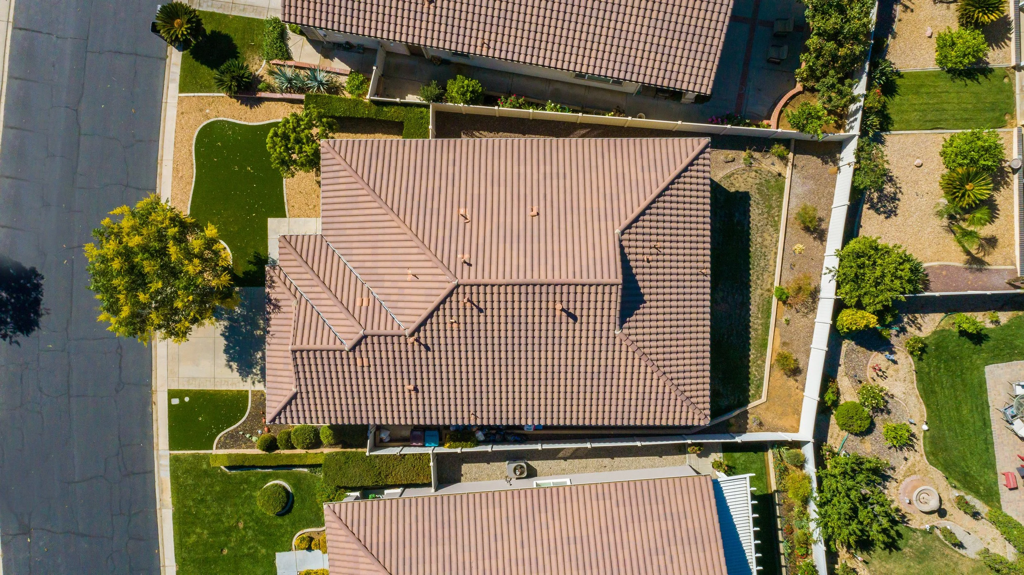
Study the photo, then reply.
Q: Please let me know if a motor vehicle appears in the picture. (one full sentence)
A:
No, no motor vehicle is visible in the view.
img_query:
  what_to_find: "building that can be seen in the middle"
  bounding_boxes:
[262,135,714,428]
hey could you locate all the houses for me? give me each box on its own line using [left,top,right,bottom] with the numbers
[320,468,731,575]
[280,0,736,105]
[262,135,714,428]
